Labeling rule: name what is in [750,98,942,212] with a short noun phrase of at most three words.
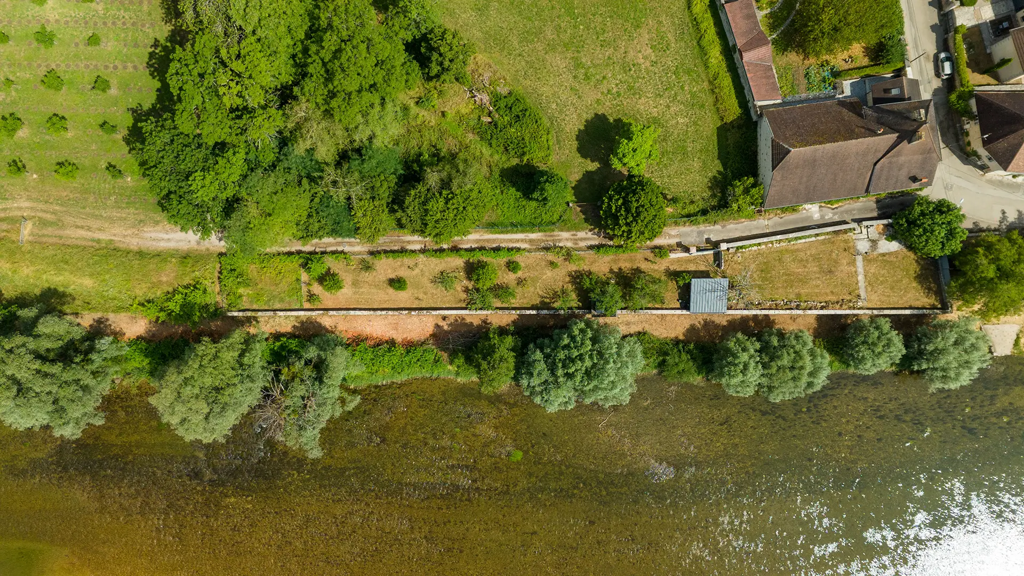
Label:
house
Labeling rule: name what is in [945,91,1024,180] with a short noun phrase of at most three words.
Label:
house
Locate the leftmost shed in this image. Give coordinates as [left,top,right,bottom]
[687,278,729,313]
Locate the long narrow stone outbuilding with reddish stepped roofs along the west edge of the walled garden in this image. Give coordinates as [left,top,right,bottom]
[722,0,781,109]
